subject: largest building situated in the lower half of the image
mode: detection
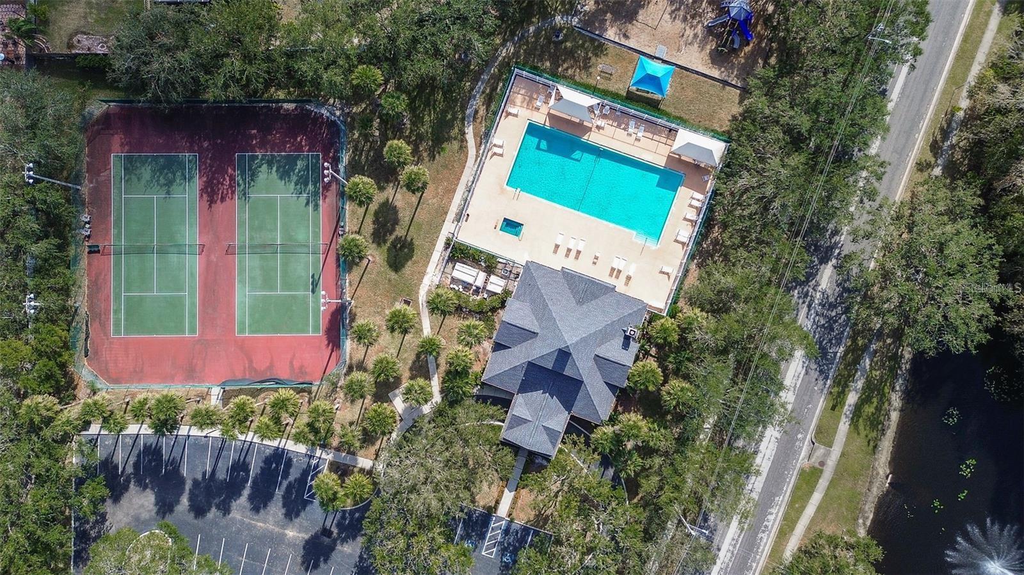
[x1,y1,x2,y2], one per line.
[481,260,646,455]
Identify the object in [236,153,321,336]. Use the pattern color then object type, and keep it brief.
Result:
green tennis court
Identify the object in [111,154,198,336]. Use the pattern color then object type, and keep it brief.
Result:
green tennis court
